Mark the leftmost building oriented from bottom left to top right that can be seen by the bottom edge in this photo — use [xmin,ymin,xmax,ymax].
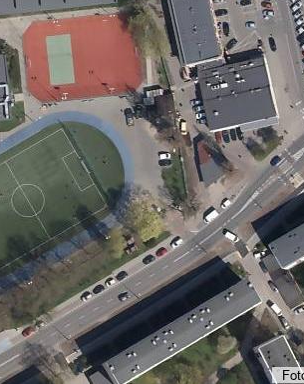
[101,278,262,384]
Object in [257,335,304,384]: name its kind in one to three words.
building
